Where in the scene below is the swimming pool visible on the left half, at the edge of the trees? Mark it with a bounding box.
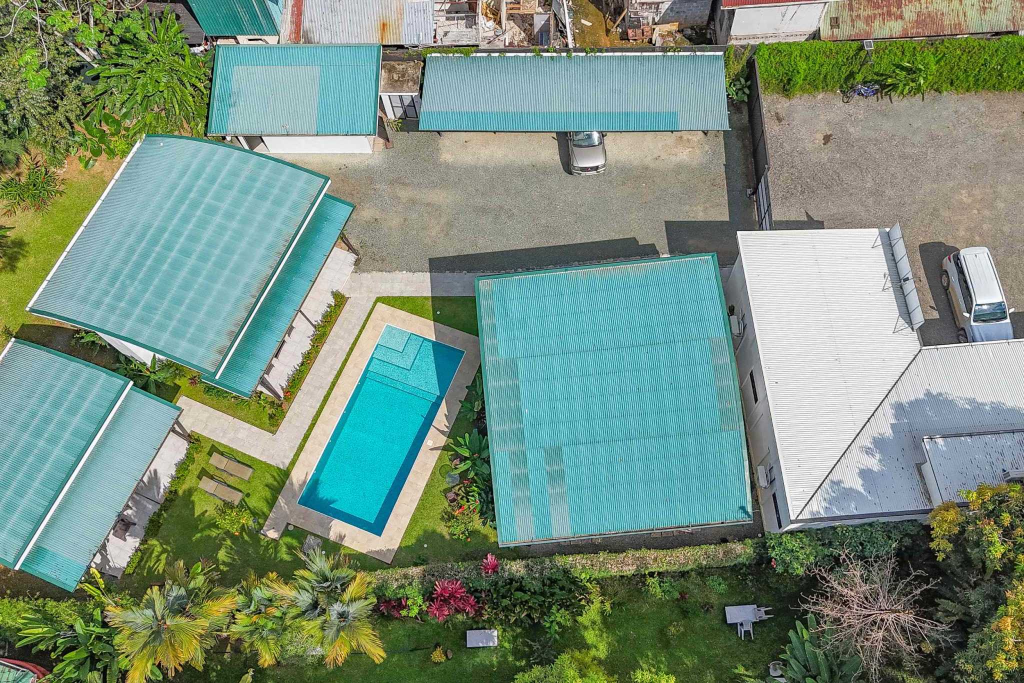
[295,323,467,539]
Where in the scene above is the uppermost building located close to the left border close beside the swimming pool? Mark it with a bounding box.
[25,134,359,399]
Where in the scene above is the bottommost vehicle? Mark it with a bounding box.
[939,247,1021,344]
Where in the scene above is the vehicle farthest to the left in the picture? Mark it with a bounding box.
[564,133,612,176]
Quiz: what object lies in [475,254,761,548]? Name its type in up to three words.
building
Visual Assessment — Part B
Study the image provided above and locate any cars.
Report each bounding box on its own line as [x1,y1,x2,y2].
[564,133,612,176]
[939,247,1021,344]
